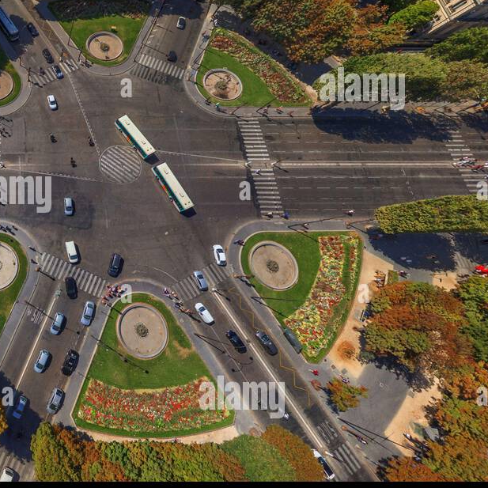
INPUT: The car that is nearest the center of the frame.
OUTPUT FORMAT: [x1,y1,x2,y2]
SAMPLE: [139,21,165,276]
[213,245,227,265]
